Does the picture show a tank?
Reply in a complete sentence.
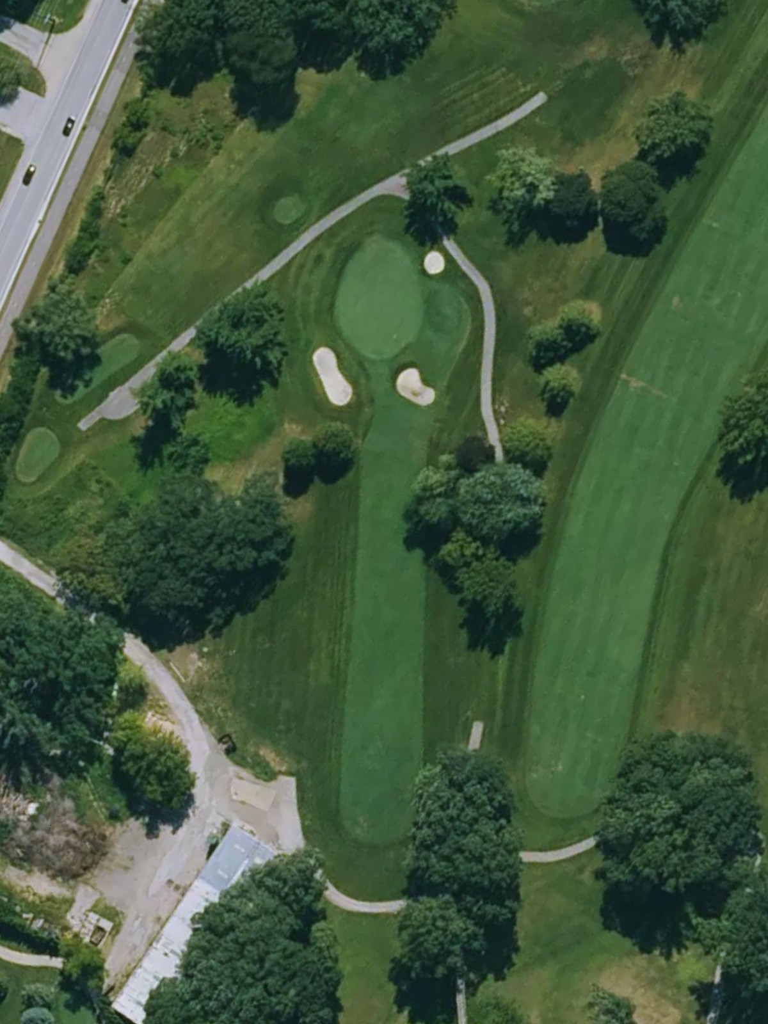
No, the photo shows no tank.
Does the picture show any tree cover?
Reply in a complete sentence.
Yes, there's tree cover in this view.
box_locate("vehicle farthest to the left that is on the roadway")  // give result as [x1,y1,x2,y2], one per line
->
[22,163,36,185]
